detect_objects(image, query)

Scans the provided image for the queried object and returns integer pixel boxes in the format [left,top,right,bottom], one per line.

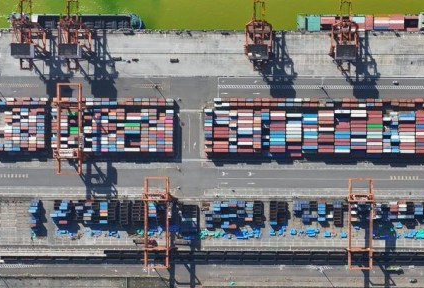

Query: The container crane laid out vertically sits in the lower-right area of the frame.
[340,177,375,268]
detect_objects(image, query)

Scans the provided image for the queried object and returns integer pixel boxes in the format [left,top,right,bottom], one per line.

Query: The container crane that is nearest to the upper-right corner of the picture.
[328,0,360,71]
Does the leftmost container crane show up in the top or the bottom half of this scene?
top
